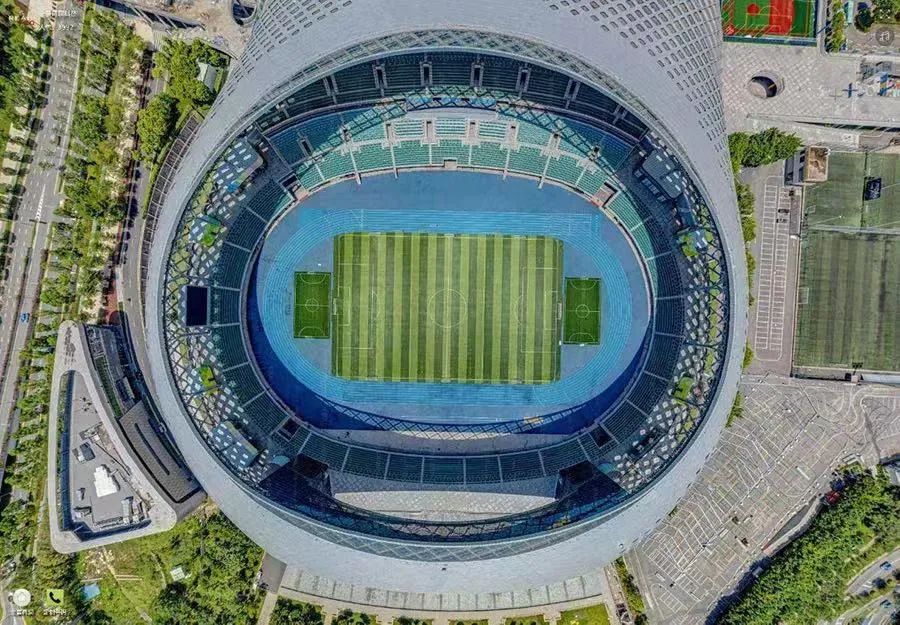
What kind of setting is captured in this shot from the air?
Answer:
sports ground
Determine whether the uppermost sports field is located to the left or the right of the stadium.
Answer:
right of it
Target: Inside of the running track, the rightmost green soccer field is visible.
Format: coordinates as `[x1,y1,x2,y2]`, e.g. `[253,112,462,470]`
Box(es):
[564,278,601,345]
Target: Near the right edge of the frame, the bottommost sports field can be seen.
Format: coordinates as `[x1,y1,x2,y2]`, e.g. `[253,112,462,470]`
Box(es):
[796,233,900,369]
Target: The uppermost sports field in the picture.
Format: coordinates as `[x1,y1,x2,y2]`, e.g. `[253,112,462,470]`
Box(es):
[803,152,900,229]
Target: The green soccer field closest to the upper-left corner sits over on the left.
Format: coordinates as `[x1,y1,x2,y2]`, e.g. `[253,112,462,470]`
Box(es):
[294,272,330,338]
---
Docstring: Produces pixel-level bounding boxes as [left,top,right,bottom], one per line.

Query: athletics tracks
[260,208,637,405]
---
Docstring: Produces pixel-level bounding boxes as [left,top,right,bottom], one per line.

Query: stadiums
[145,0,749,593]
